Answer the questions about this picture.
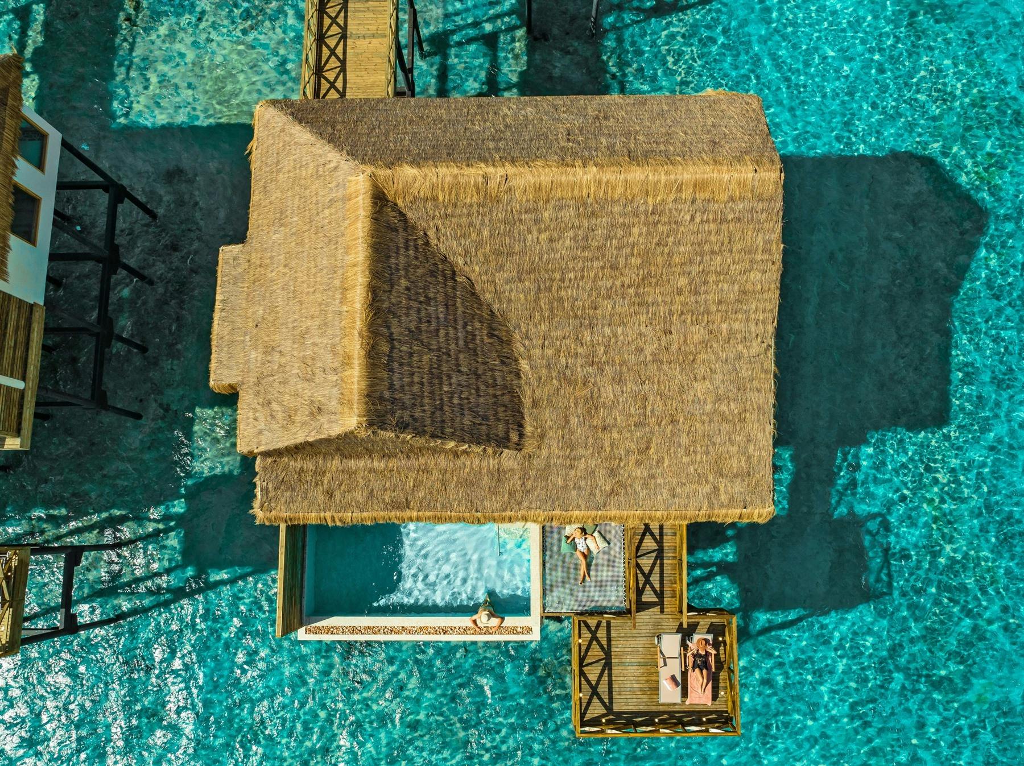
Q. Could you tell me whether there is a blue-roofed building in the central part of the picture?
No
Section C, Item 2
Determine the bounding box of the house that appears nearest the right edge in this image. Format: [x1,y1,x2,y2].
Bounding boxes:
[211,88,790,523]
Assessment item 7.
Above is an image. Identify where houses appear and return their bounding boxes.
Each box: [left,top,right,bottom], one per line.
[0,50,160,461]
[211,88,790,523]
